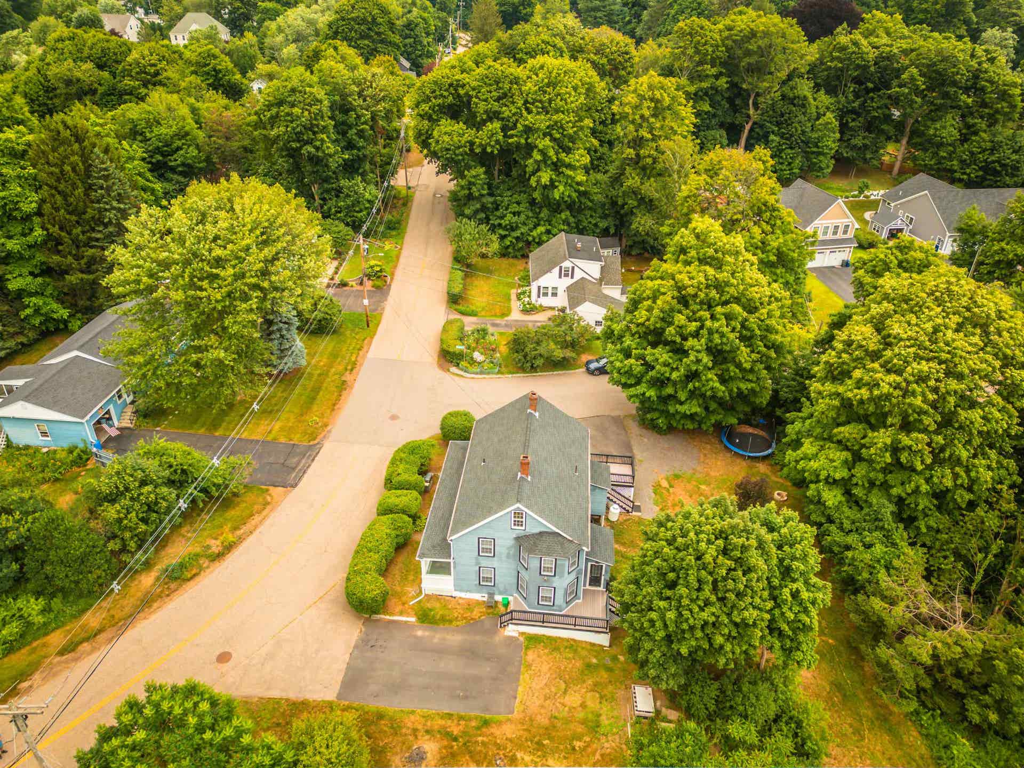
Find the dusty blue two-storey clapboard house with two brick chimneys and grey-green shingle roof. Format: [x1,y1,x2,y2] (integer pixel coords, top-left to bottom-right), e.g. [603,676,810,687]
[408,389,645,643]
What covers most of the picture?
trees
